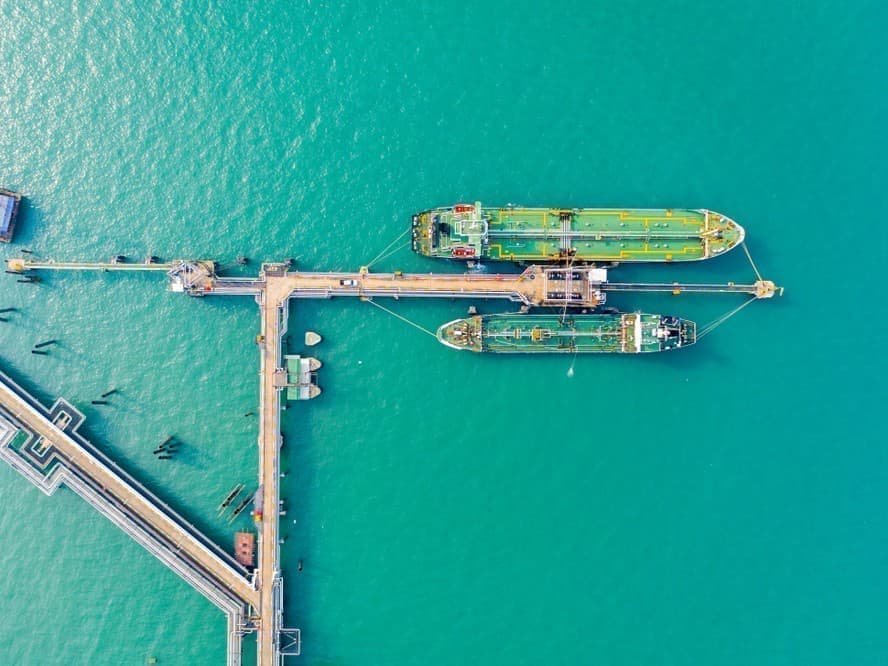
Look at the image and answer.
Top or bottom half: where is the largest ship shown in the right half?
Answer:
top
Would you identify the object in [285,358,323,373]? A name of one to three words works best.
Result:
boat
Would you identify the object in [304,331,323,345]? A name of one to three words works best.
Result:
boat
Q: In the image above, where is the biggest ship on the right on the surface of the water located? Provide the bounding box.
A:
[413,199,749,264]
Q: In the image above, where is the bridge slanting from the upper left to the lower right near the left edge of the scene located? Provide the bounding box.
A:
[0,371,263,666]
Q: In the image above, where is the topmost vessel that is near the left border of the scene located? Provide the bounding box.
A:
[0,189,25,243]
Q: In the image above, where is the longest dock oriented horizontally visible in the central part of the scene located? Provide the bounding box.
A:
[259,263,536,310]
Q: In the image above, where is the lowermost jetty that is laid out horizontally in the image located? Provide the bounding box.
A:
[273,369,321,389]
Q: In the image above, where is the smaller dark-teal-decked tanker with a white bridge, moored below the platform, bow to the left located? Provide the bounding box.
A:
[438,315,699,353]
